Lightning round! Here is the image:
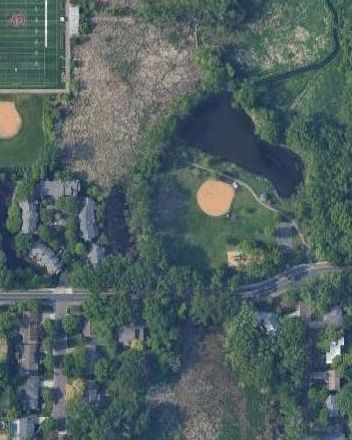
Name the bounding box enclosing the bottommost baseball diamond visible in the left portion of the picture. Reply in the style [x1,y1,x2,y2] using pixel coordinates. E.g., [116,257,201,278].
[0,94,48,168]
